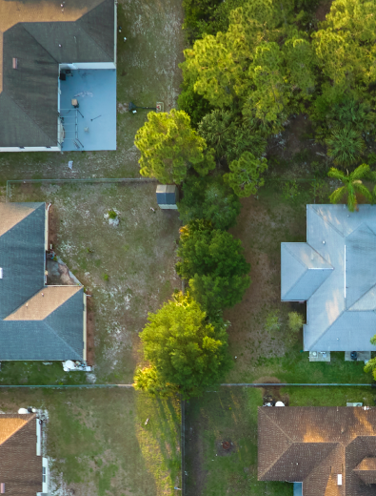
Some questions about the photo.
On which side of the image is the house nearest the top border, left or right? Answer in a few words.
left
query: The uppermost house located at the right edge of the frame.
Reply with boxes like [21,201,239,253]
[280,203,376,351]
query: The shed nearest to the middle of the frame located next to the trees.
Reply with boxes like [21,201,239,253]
[151,182,175,205]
